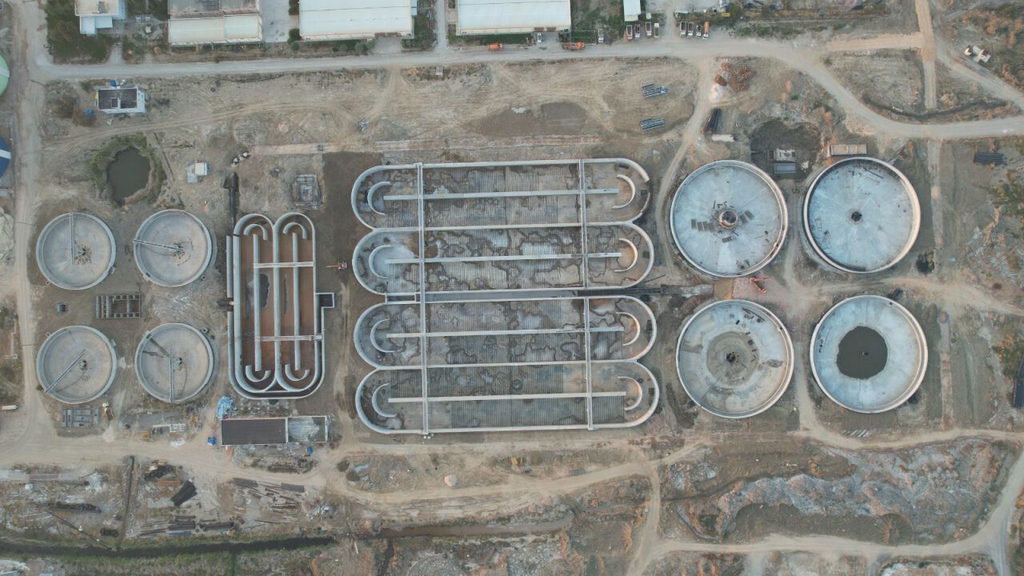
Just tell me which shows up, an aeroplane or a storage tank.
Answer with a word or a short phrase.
storage tank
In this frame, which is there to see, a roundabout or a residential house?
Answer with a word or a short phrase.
residential house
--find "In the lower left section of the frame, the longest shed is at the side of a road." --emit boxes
[221,414,330,446]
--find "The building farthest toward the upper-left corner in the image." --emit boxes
[74,0,128,38]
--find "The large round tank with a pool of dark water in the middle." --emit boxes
[809,295,928,412]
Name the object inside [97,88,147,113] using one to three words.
house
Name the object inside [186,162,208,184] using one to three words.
building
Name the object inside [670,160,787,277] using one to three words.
storage tank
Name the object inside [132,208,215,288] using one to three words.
storage tank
